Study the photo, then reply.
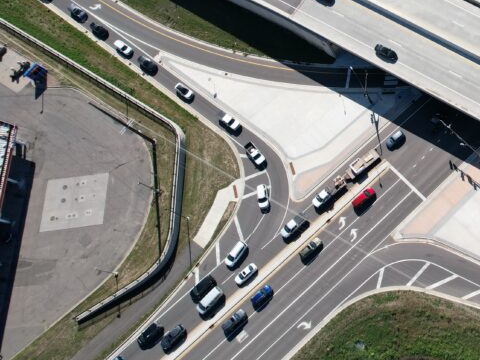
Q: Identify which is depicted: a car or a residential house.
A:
car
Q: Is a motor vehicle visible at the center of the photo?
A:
Yes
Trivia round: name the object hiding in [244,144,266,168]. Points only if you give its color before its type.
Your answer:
white truck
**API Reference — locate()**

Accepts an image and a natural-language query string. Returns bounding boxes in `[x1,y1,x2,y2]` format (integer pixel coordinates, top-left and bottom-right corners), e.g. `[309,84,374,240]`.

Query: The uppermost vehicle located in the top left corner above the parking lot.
[68,5,89,21]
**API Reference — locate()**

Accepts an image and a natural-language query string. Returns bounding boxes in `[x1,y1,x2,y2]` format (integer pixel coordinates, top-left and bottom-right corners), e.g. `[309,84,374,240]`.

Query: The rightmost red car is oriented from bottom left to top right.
[351,186,375,209]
